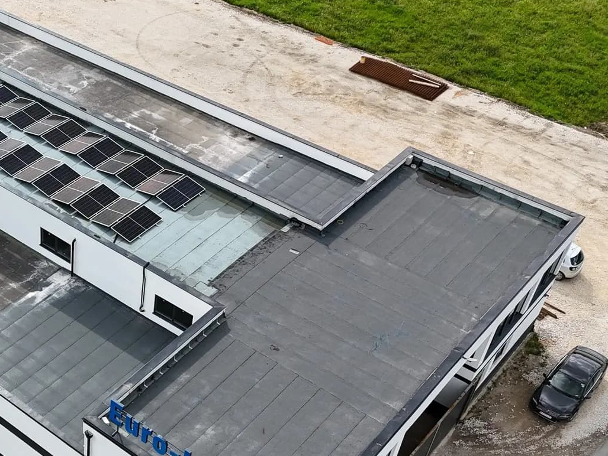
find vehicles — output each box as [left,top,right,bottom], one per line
[555,243,586,281]
[533,347,608,427]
